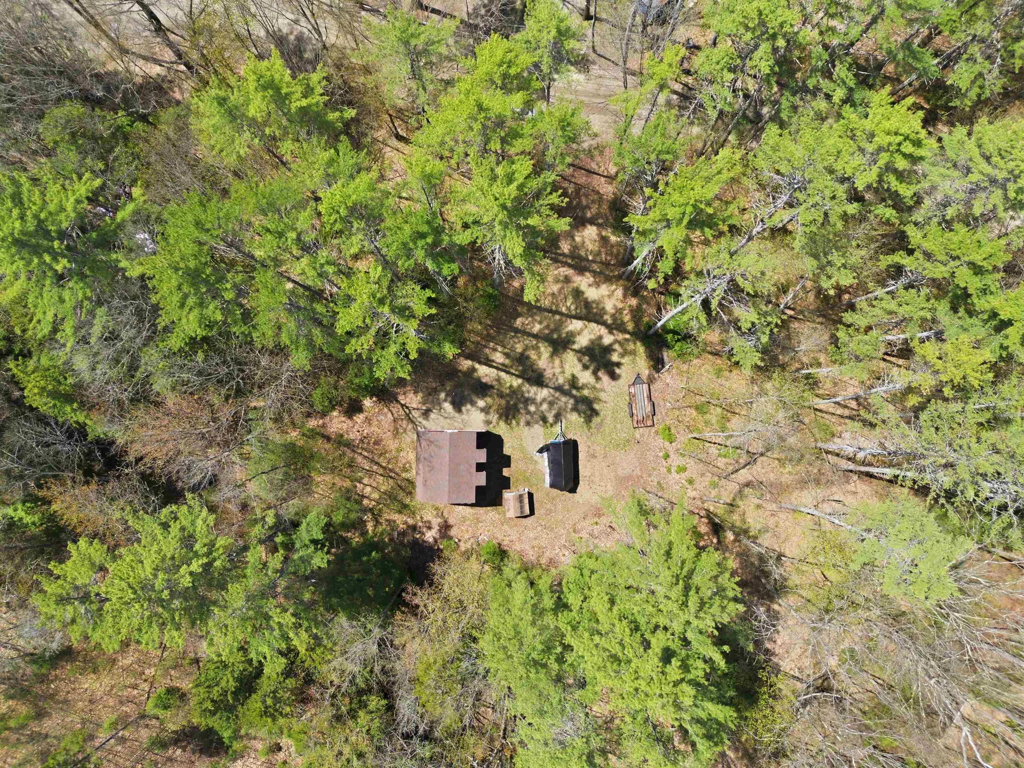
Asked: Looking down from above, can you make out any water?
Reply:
No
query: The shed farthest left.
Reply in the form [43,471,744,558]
[414,427,487,505]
